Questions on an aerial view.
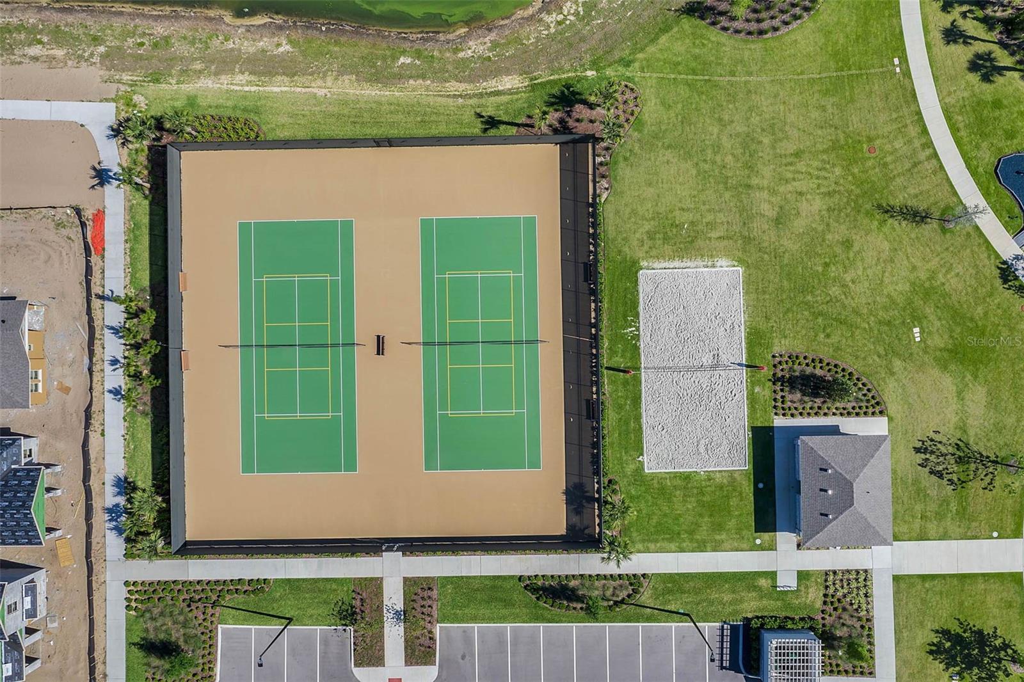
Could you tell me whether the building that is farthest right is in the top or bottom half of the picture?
bottom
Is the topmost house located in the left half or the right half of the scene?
left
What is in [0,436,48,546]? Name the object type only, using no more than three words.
house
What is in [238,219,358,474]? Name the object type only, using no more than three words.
tennis court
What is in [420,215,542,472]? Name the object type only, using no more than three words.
tennis court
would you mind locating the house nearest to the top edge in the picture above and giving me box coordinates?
[0,300,46,408]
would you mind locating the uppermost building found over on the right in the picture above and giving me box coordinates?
[792,435,893,549]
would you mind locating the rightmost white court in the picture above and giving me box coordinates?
[639,267,748,473]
